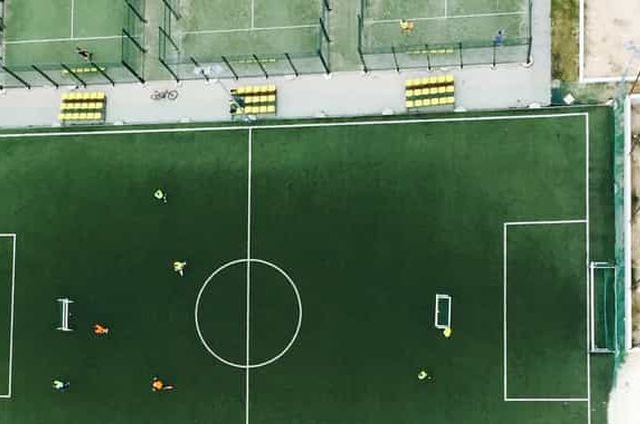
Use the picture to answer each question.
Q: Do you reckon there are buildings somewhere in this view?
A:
No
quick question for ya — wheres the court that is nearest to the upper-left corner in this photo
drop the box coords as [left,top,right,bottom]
[1,0,145,87]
